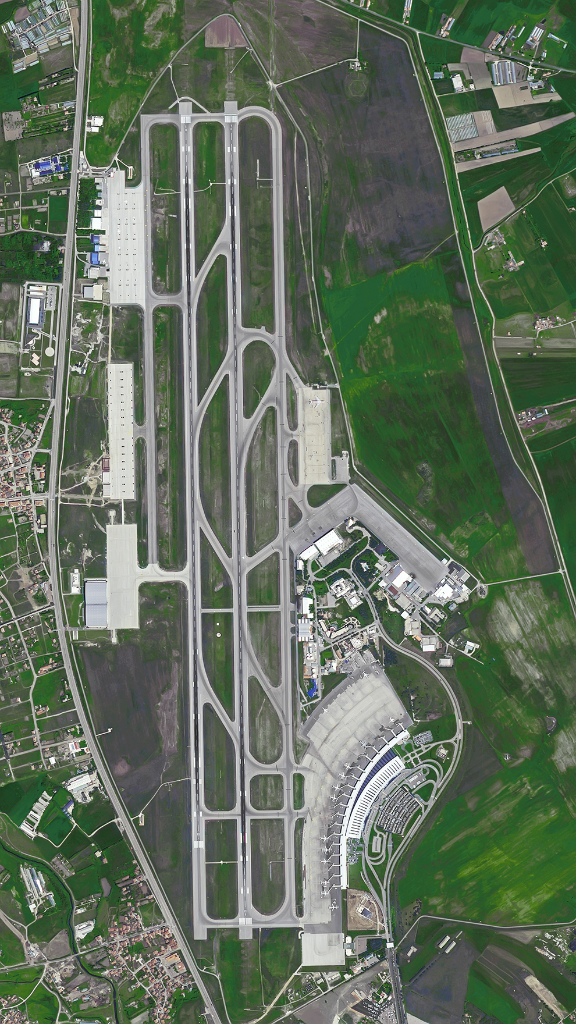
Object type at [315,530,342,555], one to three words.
hangar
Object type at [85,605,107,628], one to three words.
hangar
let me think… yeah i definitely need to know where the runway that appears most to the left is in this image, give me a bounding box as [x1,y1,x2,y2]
[179,102,207,939]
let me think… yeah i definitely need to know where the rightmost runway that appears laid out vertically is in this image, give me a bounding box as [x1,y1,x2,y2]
[224,101,252,939]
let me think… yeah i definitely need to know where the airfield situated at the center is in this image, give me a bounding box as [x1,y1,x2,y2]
[106,97,449,966]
